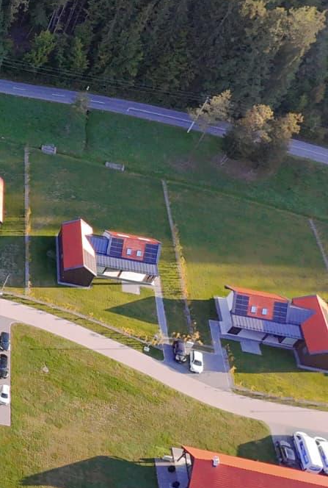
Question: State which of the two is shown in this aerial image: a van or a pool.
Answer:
van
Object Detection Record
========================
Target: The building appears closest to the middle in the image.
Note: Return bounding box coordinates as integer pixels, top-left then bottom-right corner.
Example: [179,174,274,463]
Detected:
[55,219,161,295]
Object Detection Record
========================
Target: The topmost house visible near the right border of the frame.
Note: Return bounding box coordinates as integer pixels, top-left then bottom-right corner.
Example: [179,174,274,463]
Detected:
[209,286,328,374]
